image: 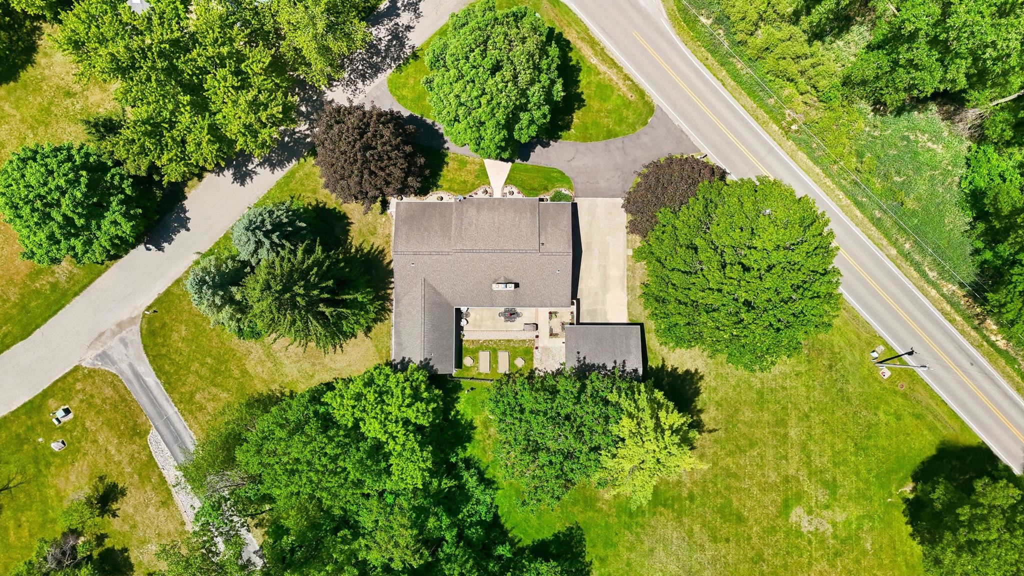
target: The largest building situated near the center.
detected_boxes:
[390,197,573,374]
